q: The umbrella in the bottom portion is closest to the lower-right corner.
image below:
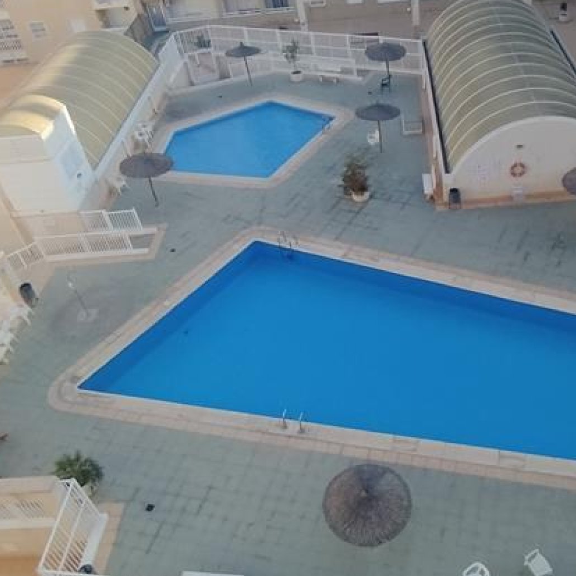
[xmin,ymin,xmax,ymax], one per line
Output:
[322,468,413,558]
